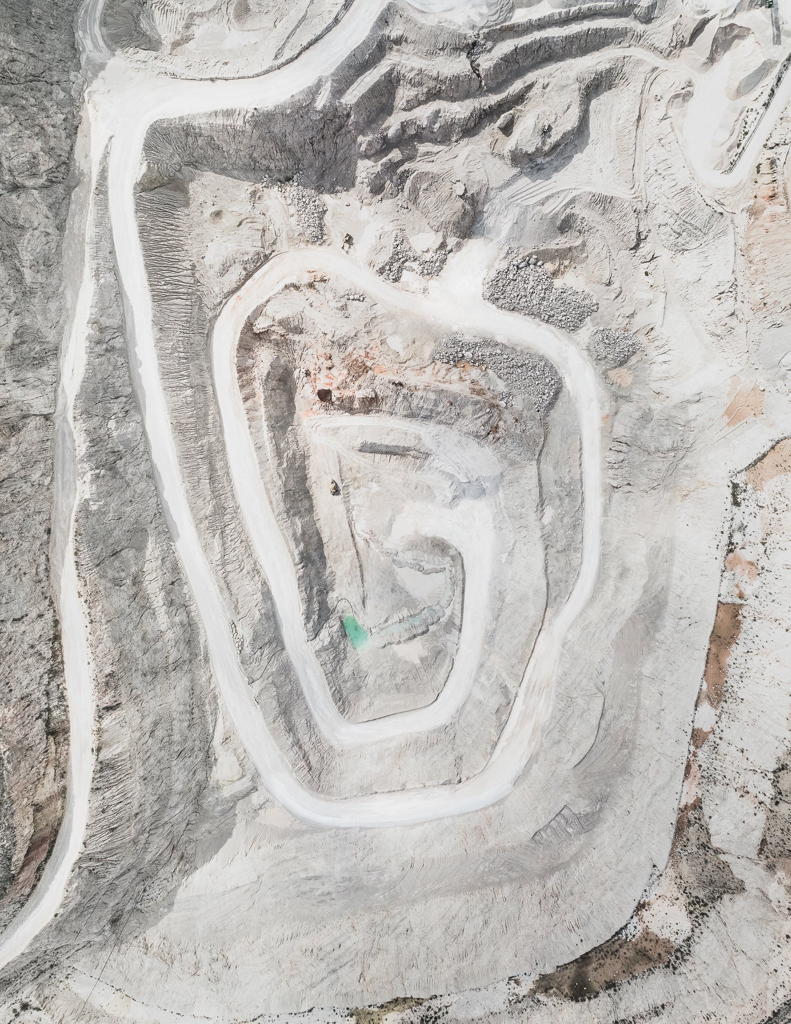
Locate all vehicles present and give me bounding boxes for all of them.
[330,479,339,492]
[341,231,351,251]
